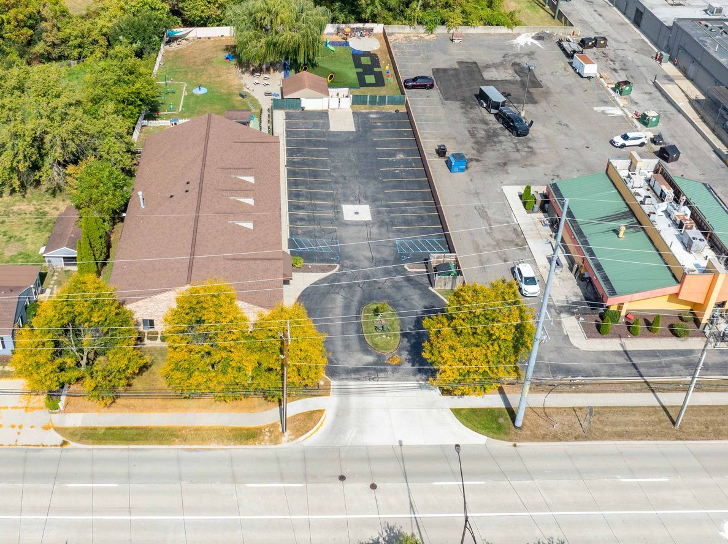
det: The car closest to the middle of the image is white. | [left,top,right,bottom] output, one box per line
[507,265,543,298]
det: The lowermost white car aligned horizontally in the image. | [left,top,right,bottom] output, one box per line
[611,130,651,148]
